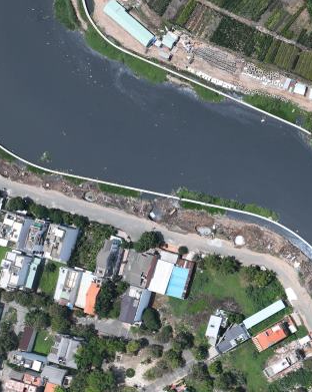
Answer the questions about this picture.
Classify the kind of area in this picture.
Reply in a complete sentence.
What you see here is a residential area.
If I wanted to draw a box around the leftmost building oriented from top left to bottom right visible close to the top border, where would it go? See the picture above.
[104,0,159,51]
